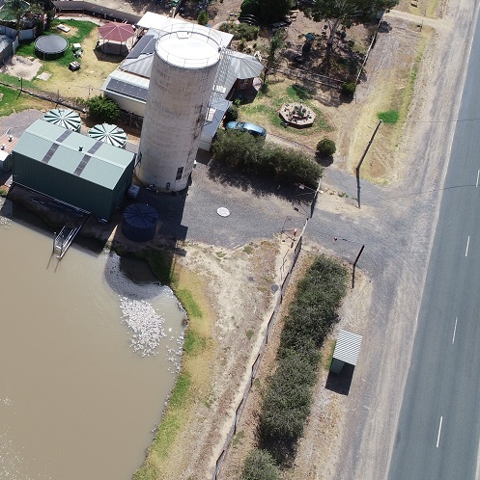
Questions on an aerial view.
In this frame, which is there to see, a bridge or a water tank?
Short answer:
water tank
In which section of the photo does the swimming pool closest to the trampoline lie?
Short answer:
top left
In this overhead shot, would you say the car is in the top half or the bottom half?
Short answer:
top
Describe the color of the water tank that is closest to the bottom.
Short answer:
black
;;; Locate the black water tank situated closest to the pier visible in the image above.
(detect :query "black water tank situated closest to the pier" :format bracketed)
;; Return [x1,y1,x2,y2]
[120,203,160,248]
